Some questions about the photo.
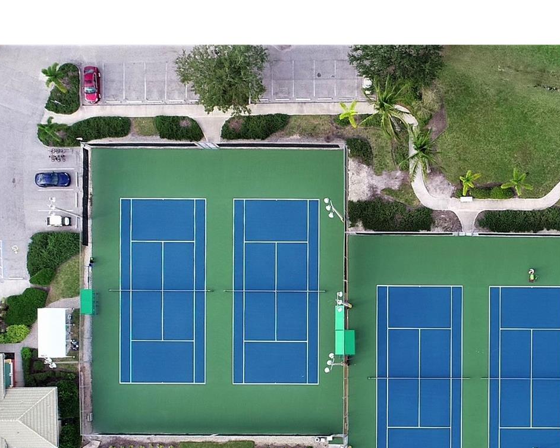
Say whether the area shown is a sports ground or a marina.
sports ground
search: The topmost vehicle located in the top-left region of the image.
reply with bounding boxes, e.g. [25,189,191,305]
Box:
[82,67,102,104]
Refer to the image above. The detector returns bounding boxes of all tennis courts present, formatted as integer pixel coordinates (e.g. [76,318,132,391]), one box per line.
[91,148,219,435]
[348,235,475,448]
[475,235,560,448]
[219,148,343,435]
